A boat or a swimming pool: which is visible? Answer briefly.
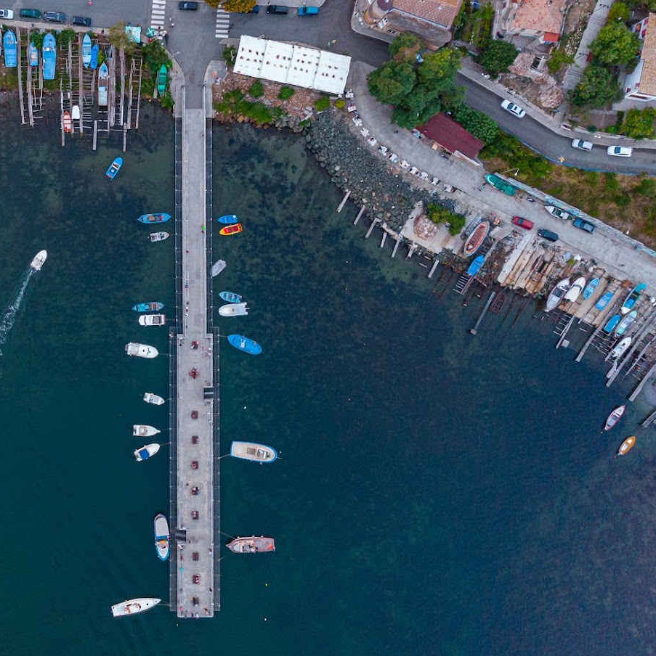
boat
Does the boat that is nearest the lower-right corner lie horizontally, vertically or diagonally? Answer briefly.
diagonally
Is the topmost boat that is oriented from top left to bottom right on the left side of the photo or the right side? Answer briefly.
right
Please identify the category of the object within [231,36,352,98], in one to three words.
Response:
tent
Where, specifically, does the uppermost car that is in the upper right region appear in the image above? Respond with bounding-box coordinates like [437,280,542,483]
[499,100,527,121]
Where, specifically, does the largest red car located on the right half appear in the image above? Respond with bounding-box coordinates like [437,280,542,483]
[510,215,534,231]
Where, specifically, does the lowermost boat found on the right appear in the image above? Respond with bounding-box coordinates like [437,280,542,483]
[615,436,636,458]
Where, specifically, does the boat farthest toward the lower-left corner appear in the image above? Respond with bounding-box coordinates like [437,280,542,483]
[111,598,169,617]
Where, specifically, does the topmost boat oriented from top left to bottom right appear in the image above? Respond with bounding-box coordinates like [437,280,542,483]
[484,173,519,198]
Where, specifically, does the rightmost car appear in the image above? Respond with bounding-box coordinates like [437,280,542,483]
[605,144,632,158]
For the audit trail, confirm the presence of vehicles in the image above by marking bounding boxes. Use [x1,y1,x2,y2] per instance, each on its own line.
[535,228,559,242]
[237,4,259,17]
[499,100,527,121]
[43,10,67,24]
[72,15,92,28]
[20,6,42,20]
[297,4,319,18]
[510,215,534,231]
[569,137,593,153]
[266,3,289,17]
[0,7,15,21]
[605,144,632,158]
[178,0,197,13]
[570,217,597,235]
